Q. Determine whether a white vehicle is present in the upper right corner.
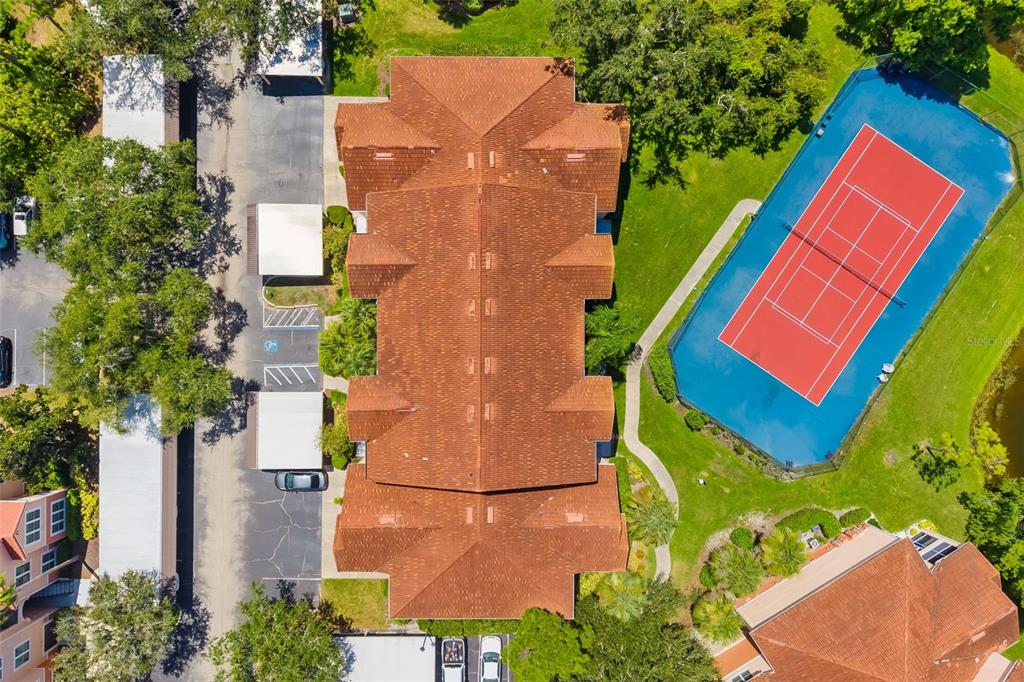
No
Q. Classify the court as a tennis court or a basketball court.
tennis court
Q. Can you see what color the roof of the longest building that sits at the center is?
orange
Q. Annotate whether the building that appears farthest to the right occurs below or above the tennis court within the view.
below it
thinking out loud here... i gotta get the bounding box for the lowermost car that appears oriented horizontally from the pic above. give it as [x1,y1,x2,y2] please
[274,471,327,494]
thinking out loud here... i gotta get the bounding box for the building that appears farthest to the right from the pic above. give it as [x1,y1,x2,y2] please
[712,522,1024,682]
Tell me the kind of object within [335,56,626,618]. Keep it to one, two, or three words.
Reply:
building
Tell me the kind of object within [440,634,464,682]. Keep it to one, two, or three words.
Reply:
truck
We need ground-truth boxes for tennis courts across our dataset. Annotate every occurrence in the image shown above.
[670,65,1013,467]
